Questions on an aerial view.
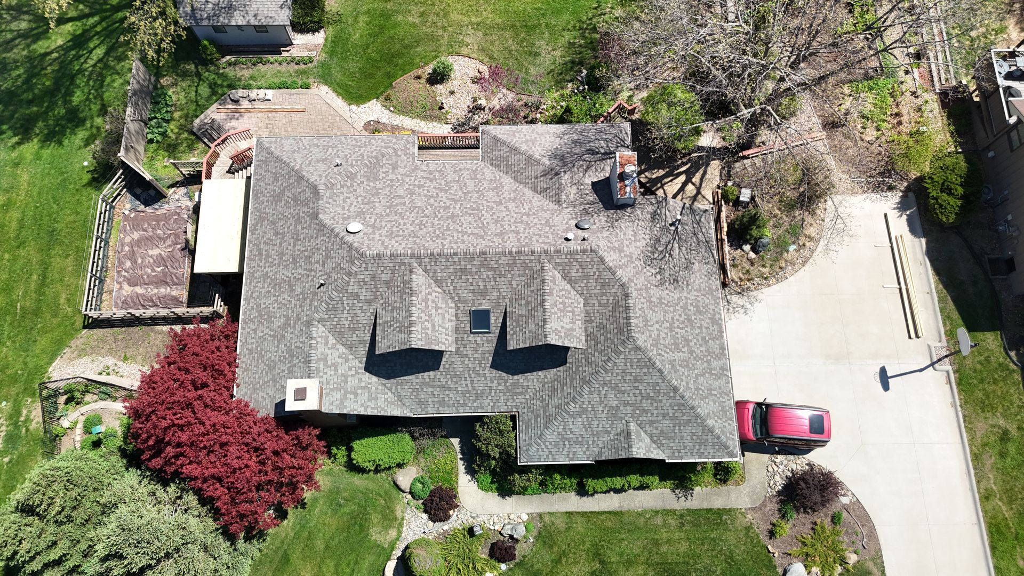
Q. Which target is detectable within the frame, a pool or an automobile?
automobile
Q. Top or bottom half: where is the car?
bottom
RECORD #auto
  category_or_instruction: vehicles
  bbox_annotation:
[736,395,833,450]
